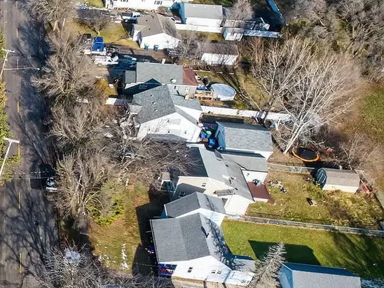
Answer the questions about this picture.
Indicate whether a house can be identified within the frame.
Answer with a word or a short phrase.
Yes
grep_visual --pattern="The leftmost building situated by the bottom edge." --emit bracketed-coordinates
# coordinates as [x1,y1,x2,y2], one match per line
[138,209,261,285]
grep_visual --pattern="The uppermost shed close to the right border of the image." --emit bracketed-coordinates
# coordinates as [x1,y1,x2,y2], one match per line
[314,165,369,194]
